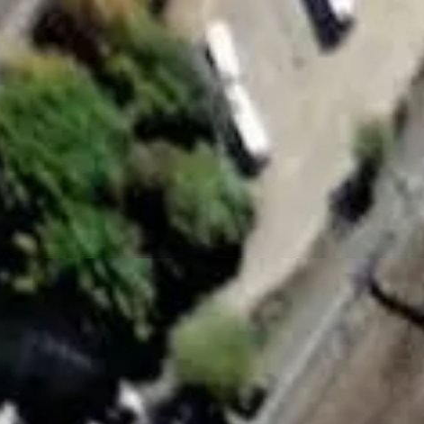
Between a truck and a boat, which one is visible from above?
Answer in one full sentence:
It is a truck that can be seen here.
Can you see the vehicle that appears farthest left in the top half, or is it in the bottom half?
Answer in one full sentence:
The bottom half of the photo is where the vehicle that appears farthest left is.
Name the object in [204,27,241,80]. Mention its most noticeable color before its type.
white truck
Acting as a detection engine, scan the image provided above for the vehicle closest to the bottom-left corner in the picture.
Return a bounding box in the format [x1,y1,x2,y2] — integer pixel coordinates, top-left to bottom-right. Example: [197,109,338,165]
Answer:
[120,383,144,416]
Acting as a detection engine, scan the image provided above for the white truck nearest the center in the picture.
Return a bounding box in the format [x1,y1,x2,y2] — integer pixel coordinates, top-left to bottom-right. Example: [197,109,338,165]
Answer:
[222,79,269,153]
